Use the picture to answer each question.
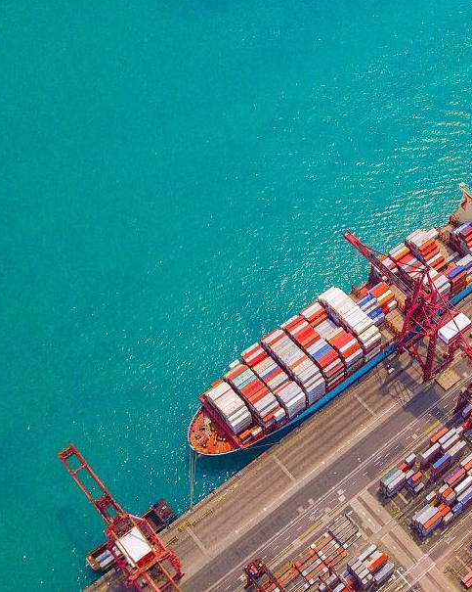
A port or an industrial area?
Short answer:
port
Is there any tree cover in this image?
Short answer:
No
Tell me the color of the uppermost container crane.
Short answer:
red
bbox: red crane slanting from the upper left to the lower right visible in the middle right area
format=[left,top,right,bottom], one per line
[339,233,472,383]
